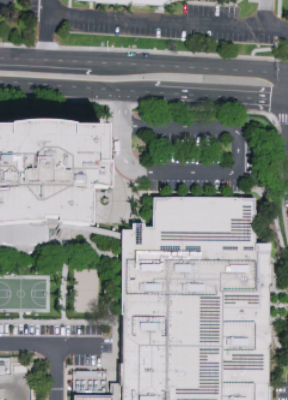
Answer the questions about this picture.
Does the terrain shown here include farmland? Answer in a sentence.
No, no farmland is visible.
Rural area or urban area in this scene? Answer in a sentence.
The area is urban.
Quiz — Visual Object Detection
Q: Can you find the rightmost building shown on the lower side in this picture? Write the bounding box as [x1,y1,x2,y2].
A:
[122,196,272,400]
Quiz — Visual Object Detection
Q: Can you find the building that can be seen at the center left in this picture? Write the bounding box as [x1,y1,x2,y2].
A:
[0,119,116,226]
